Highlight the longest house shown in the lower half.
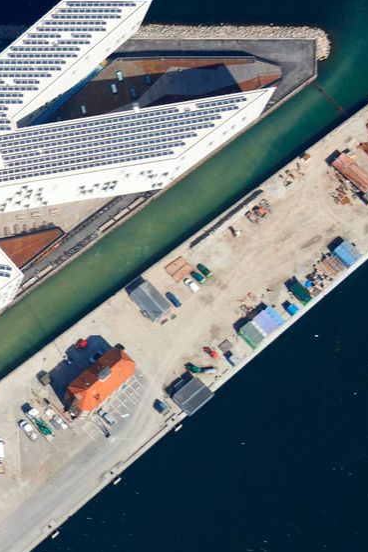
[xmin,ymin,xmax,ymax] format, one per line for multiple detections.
[56,349,139,425]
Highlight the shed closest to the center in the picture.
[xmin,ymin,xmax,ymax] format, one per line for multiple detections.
[128,279,170,323]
